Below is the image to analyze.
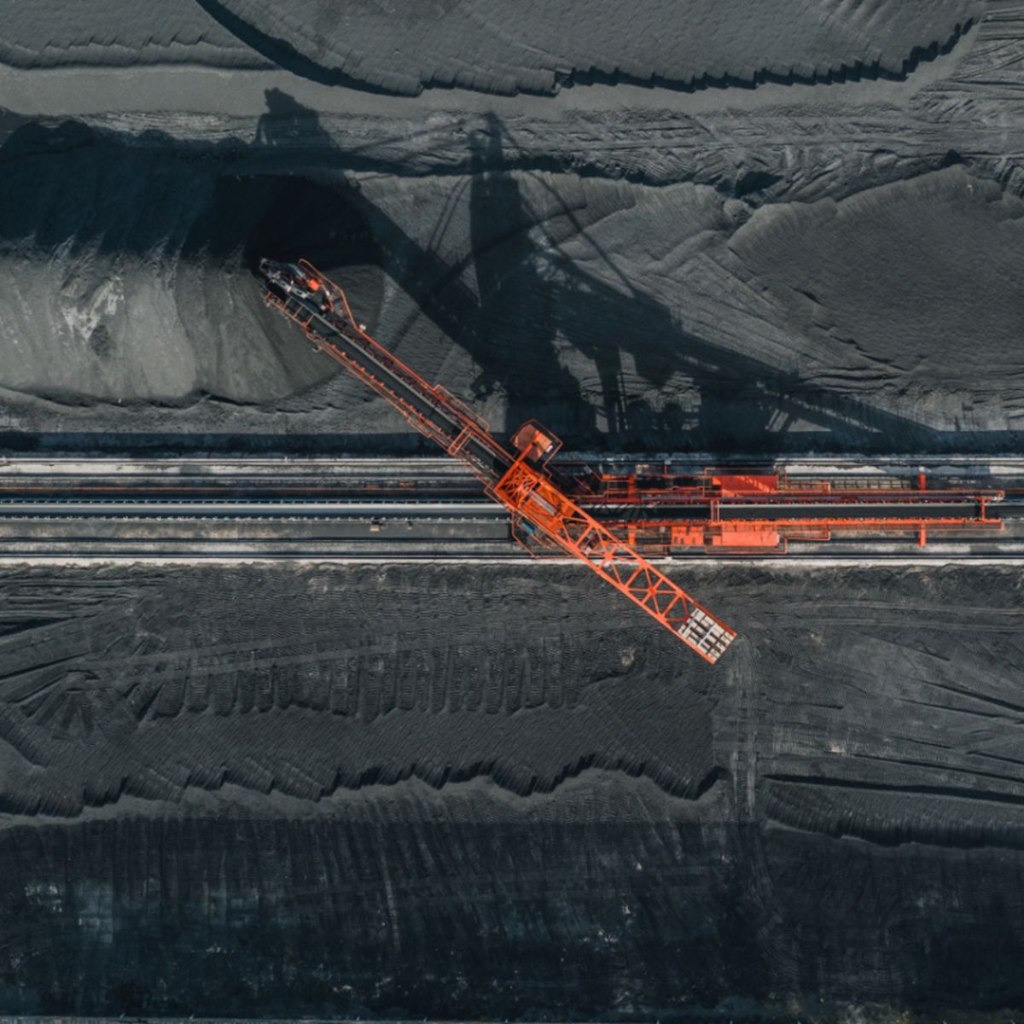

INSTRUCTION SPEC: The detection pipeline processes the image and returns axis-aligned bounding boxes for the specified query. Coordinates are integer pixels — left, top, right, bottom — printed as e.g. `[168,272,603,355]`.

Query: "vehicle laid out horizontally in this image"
[566,460,1024,558]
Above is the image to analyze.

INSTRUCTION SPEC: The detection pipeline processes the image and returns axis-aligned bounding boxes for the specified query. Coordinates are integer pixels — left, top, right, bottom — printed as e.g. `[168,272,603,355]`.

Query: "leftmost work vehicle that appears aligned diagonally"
[261,258,735,668]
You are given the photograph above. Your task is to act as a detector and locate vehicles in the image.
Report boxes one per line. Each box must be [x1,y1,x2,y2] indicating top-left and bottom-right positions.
[261,258,735,668]
[566,460,1024,558]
